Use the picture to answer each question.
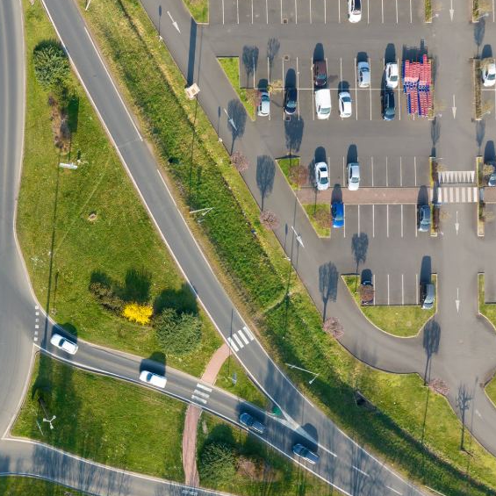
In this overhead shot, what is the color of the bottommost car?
blue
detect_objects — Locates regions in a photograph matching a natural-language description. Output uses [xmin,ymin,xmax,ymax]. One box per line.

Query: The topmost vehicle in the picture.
[347,0,362,22]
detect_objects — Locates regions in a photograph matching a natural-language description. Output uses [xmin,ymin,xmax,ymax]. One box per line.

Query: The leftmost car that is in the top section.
[257,92,270,116]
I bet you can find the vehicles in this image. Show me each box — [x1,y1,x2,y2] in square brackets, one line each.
[481,63,496,88]
[312,62,327,87]
[356,62,370,88]
[384,62,400,90]
[257,92,270,116]
[330,203,345,228]
[315,89,332,119]
[237,411,266,433]
[416,205,432,232]
[337,92,352,117]
[51,334,77,354]
[381,92,397,120]
[346,163,360,190]
[420,282,439,310]
[314,163,329,190]
[138,369,168,388]
[291,443,320,465]
[283,89,298,115]
[347,0,362,22]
